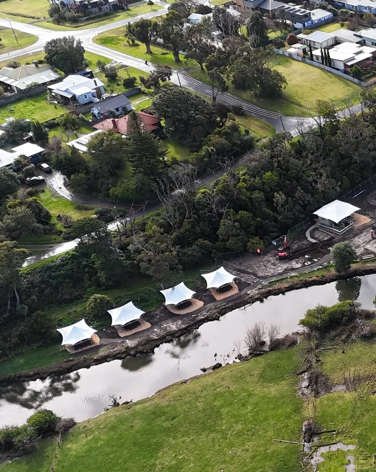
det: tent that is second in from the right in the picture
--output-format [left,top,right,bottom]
[197,265,241,297]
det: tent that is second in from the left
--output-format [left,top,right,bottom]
[99,300,152,334]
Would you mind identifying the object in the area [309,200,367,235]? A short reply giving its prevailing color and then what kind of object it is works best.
white tent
